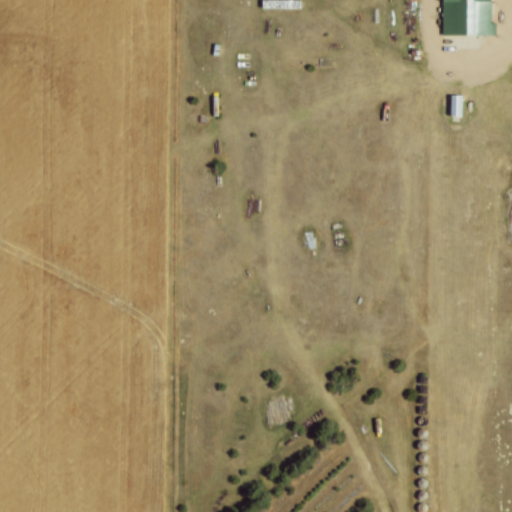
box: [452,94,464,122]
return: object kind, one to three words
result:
shed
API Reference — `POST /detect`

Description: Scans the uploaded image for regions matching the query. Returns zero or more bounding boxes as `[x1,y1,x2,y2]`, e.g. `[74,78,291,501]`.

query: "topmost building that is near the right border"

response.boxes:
[444,0,498,36]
